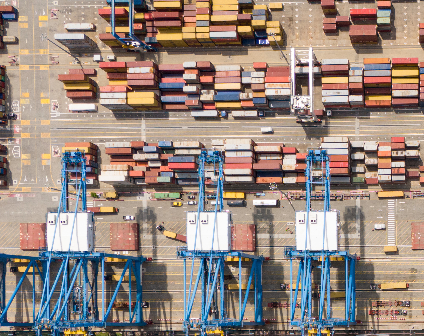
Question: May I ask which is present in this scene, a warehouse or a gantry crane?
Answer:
gantry crane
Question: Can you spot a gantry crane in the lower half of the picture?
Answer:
Yes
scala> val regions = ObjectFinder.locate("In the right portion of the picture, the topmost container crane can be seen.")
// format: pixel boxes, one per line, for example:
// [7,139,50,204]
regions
[288,44,324,123]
